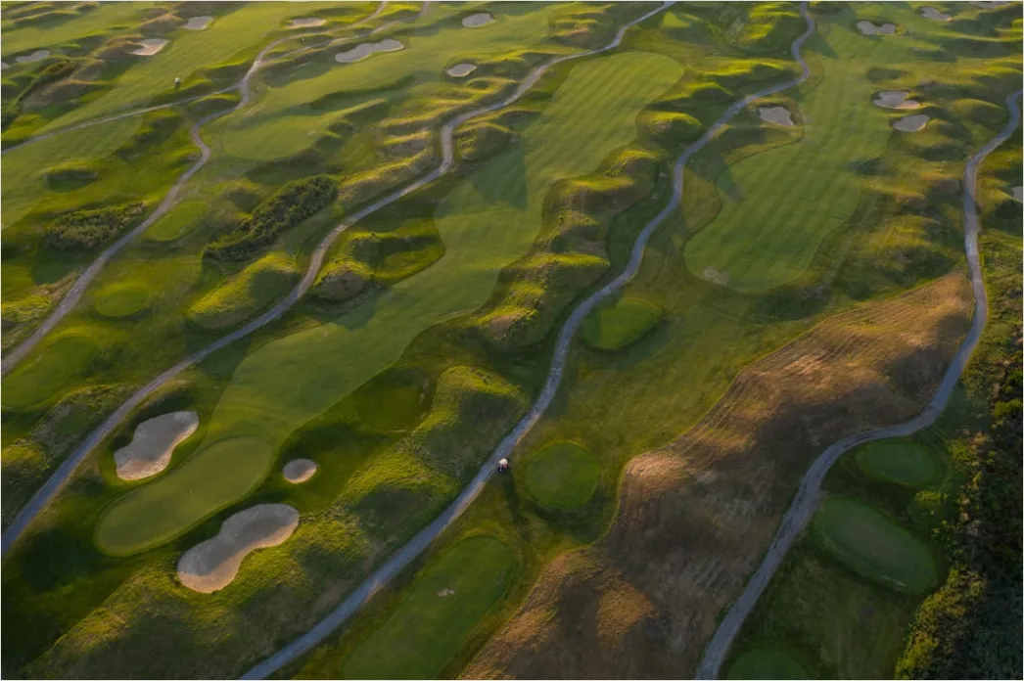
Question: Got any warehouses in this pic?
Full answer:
No, this view has no warehouse in it.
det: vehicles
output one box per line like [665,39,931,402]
[173,78,181,86]
[497,461,509,476]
